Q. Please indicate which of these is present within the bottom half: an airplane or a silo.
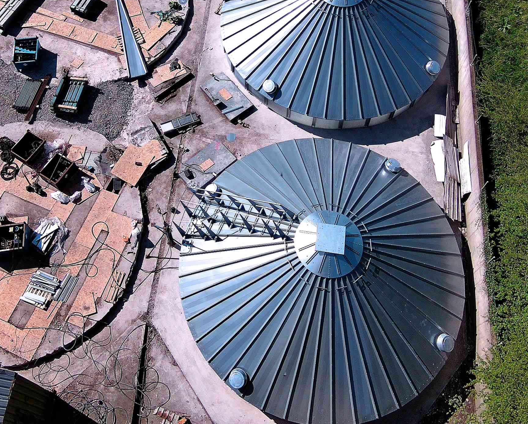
silo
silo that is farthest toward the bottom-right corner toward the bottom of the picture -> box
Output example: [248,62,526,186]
[171,135,470,424]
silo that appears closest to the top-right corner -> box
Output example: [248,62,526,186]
[220,0,450,128]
